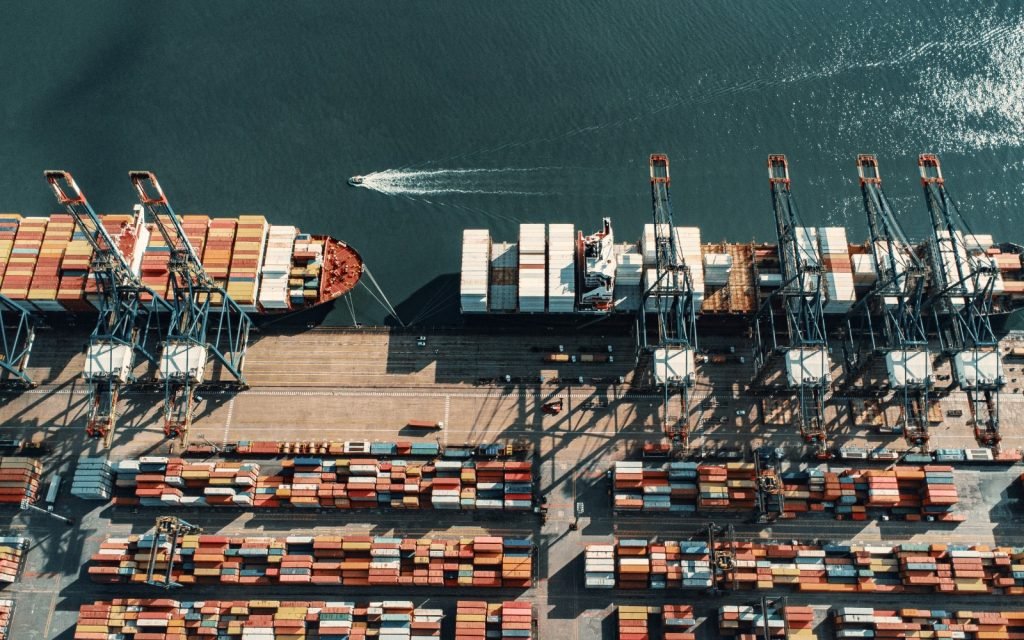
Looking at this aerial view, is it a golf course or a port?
port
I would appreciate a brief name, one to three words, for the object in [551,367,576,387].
vehicle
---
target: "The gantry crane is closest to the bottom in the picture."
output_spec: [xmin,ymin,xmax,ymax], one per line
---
[745,597,795,640]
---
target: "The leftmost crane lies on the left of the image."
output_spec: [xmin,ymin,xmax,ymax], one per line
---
[0,290,55,386]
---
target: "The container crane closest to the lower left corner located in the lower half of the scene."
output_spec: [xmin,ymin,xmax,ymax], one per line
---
[147,520,202,594]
